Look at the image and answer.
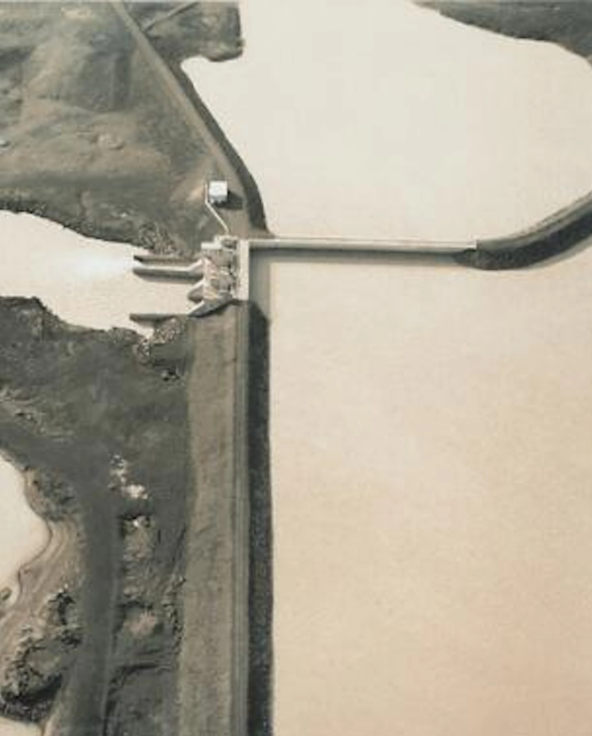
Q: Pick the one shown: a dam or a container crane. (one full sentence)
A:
The image shows a dam.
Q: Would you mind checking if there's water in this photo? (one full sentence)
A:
Yes, some water is visible.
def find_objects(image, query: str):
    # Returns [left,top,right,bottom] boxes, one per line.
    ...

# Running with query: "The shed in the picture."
[207,186,229,207]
